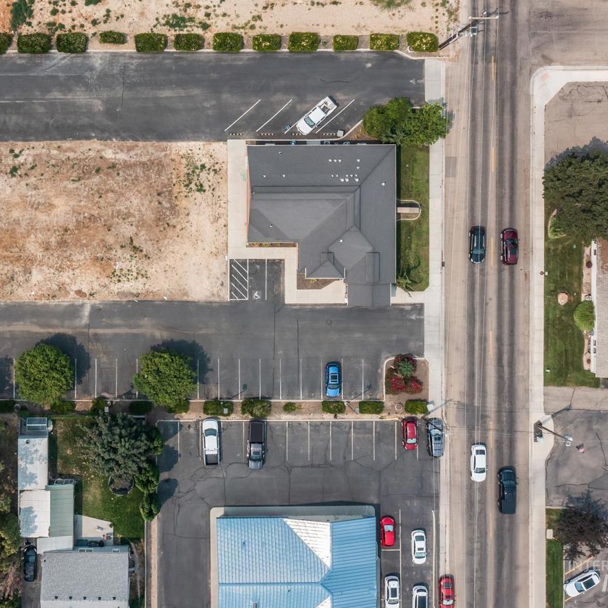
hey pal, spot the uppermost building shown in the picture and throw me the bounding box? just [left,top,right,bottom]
[246,144,398,306]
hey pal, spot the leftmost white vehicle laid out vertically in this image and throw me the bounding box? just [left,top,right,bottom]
[203,417,220,465]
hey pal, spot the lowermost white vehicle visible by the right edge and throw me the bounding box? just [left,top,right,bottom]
[563,569,599,597]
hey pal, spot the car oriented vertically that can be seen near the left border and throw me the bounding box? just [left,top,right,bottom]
[21,543,38,581]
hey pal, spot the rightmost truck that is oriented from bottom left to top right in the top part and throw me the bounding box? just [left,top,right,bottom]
[297,94,340,134]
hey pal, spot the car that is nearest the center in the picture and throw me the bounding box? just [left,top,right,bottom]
[325,362,342,398]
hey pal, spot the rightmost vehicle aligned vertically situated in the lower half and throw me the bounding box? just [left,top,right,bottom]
[497,465,518,513]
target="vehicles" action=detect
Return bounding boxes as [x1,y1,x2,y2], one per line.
[425,416,442,454]
[248,419,266,467]
[297,94,340,134]
[563,569,599,597]
[325,362,342,398]
[401,417,418,449]
[411,583,427,608]
[499,228,520,264]
[438,574,457,608]
[470,443,488,481]
[384,573,402,608]
[410,527,427,563]
[467,227,486,263]
[497,465,518,513]
[21,543,38,581]
[203,417,220,465]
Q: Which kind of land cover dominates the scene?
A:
paved ground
